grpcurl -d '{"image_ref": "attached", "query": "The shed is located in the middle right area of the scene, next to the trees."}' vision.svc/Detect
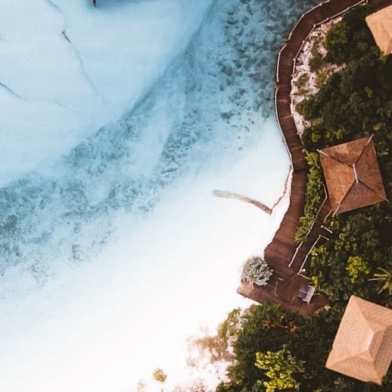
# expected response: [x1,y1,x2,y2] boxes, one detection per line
[316,136,388,218]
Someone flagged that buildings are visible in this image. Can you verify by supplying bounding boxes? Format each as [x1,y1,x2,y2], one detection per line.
[326,295,392,386]
[366,6,392,60]
[316,136,388,218]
